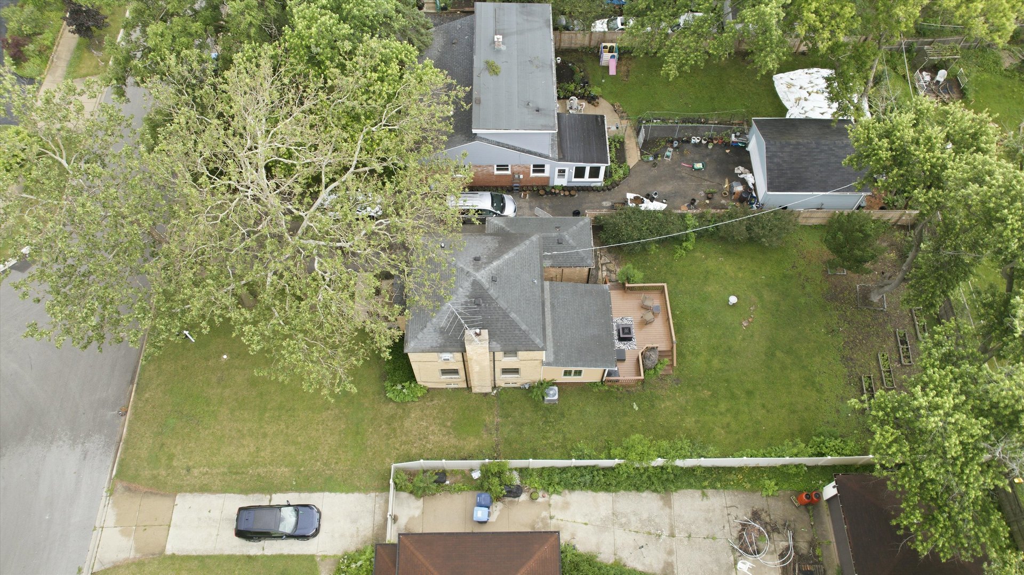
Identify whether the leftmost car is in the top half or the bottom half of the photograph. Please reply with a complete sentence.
The bottom half of the photo is where the leftmost car is.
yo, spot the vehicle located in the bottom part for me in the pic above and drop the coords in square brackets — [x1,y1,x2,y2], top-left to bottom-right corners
[231,501,323,546]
